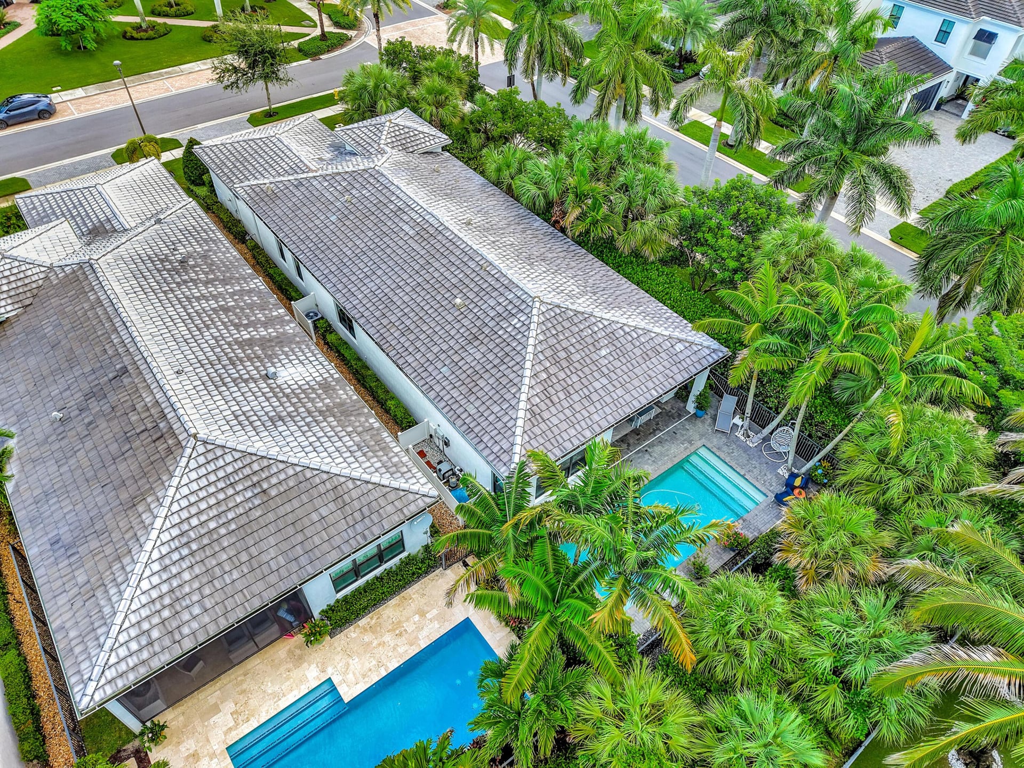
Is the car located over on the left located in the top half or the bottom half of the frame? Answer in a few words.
top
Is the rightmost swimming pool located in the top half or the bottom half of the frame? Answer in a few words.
bottom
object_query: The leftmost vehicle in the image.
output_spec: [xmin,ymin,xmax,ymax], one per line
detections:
[0,91,56,130]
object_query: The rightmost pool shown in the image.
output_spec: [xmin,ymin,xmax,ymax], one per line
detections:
[555,444,769,620]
